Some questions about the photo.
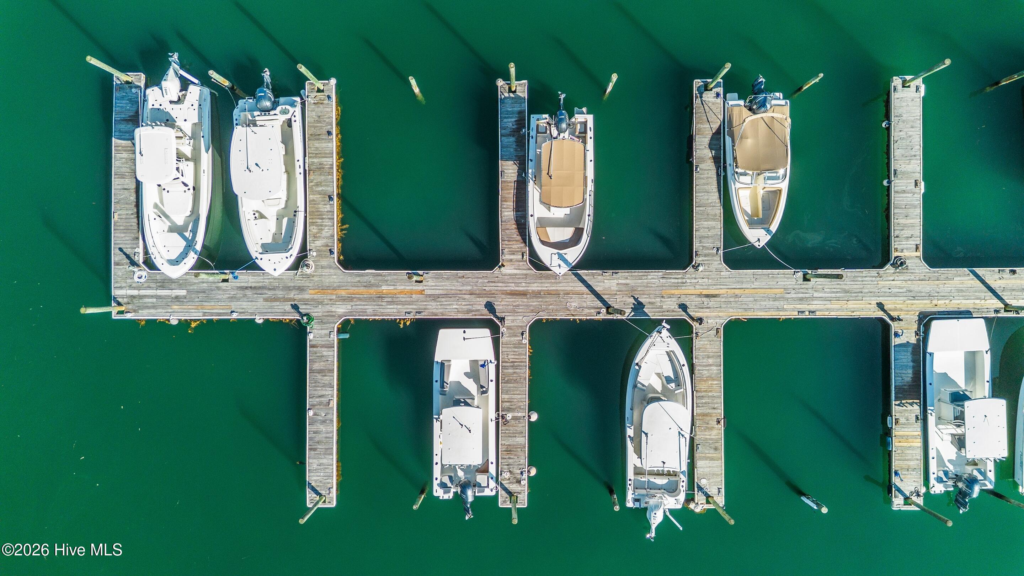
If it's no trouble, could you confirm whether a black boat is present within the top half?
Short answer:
No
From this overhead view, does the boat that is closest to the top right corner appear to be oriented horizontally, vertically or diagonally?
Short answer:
vertically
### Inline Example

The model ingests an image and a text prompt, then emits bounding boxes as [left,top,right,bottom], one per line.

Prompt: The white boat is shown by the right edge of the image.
[923,319,1011,516]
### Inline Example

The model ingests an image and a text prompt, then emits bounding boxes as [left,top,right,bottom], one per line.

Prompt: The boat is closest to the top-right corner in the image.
[722,72,791,249]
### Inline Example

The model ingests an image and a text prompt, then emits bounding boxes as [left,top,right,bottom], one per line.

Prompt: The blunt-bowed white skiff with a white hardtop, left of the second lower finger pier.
[433,328,496,521]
